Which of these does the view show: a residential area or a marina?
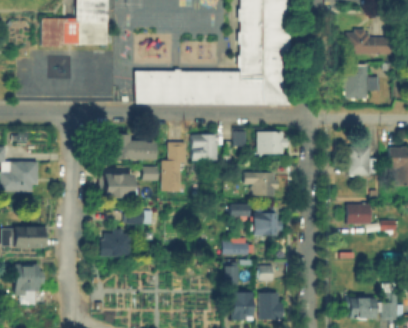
residential area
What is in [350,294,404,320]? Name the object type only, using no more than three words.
house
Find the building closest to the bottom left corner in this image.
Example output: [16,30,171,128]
[16,264,44,305]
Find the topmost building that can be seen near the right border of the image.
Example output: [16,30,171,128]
[348,28,392,55]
